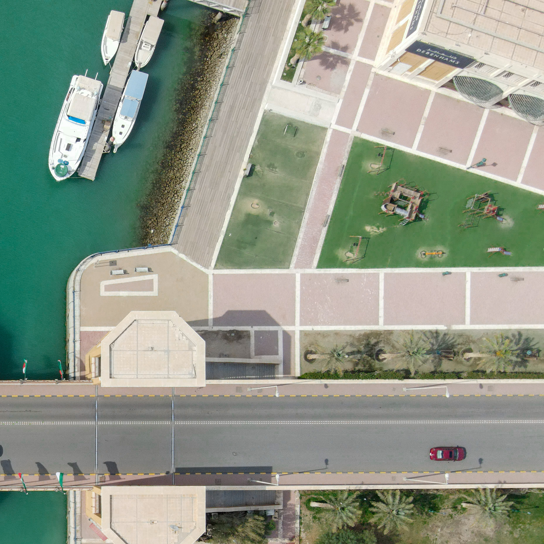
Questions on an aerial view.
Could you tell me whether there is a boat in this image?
Yes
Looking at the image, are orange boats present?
No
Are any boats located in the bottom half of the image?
No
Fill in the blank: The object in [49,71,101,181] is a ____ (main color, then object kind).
white boat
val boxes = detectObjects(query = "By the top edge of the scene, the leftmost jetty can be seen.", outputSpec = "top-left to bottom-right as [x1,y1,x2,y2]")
[78,0,161,181]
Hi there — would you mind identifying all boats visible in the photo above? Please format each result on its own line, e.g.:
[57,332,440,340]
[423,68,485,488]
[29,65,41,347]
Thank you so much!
[101,2,126,65]
[49,71,101,181]
[136,7,164,71]
[113,64,150,152]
